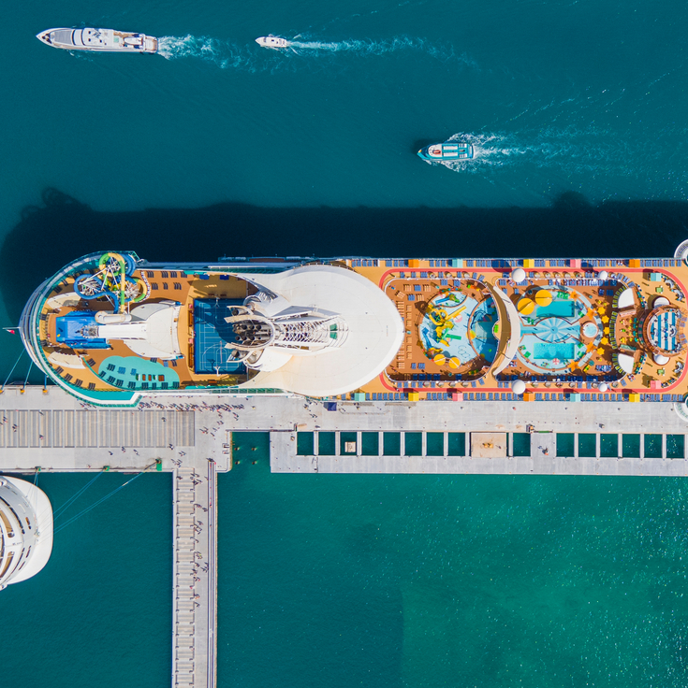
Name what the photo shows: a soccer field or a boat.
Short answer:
boat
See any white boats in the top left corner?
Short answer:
Yes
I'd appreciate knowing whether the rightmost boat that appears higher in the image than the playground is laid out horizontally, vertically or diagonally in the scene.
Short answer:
horizontally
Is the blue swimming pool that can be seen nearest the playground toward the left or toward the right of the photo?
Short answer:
right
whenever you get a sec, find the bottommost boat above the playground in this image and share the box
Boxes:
[417,142,474,161]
